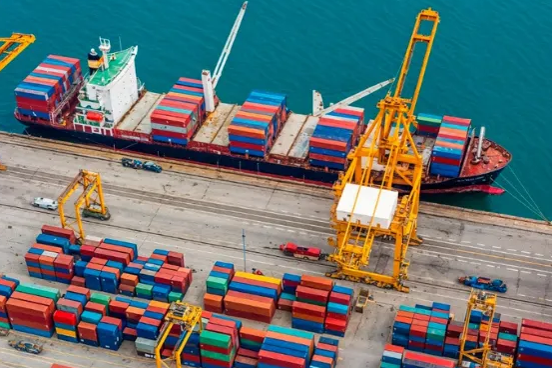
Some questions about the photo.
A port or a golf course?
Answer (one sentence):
This image shows a port.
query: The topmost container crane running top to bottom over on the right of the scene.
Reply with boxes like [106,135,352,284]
[322,9,435,282]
